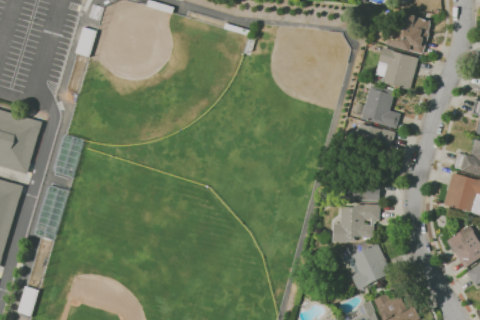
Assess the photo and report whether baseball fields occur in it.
Yes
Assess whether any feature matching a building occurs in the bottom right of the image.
Yes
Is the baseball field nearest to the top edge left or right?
left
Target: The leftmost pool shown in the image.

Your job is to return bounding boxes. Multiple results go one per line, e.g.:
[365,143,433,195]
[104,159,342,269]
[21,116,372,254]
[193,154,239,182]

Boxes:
[299,304,326,320]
